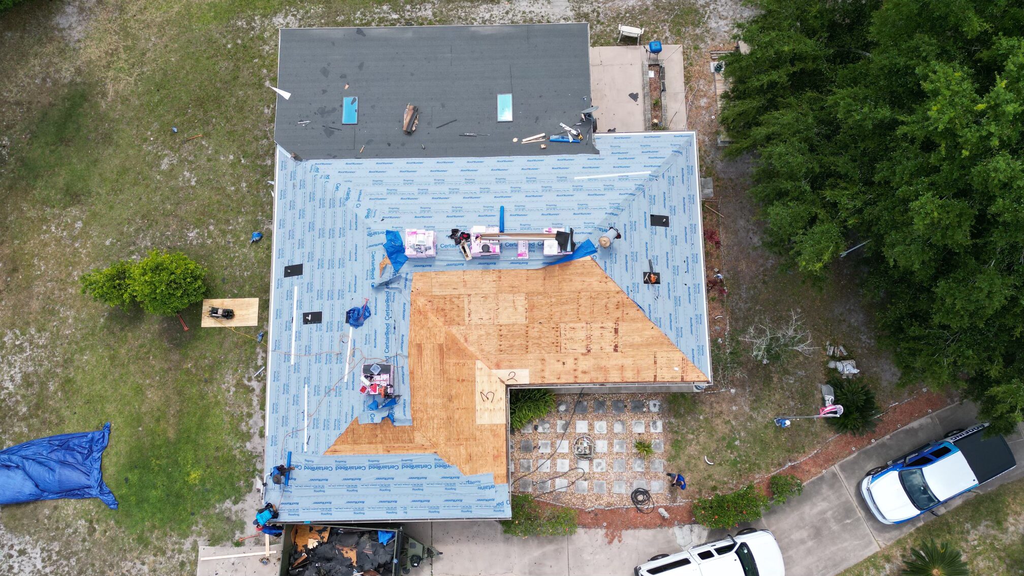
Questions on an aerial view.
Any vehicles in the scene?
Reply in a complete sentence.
Yes, there's a vehicle down there.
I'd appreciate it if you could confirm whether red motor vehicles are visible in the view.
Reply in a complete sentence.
No, the picture doesn't show any red motor vehicle.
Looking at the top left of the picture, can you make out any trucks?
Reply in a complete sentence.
No, I can find no truck at the top left of the picture.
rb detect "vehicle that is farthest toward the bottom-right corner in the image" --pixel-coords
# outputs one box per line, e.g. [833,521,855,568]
[863,418,1018,524]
